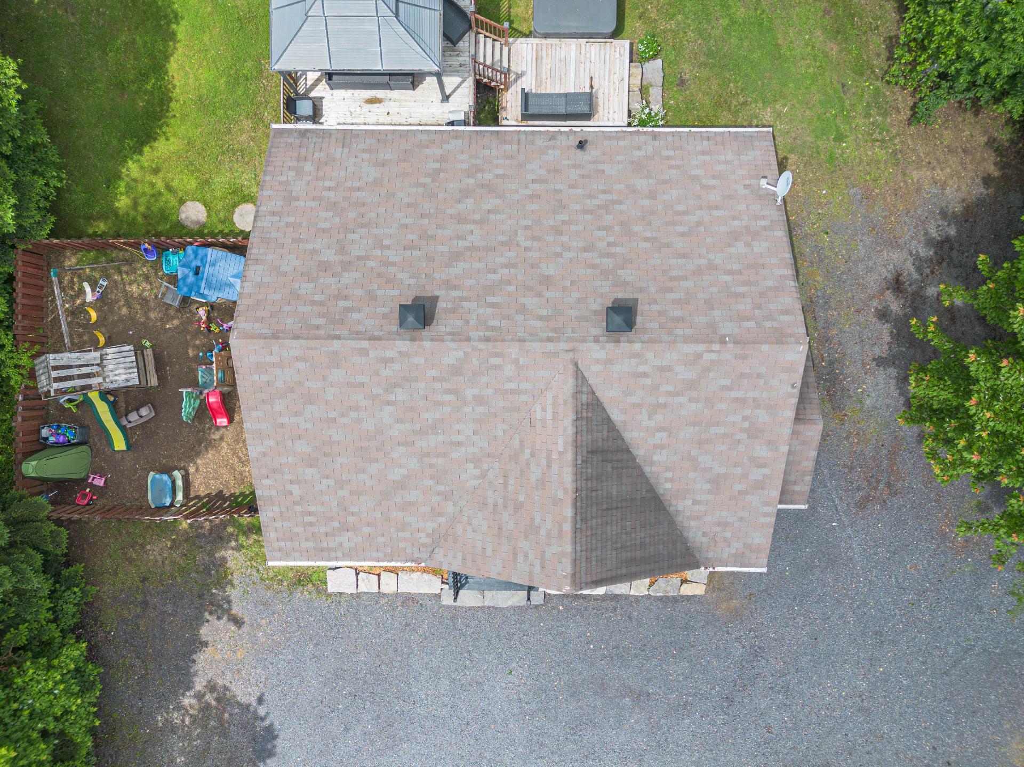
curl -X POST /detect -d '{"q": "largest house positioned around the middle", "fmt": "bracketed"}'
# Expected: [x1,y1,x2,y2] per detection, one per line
[231,123,823,591]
